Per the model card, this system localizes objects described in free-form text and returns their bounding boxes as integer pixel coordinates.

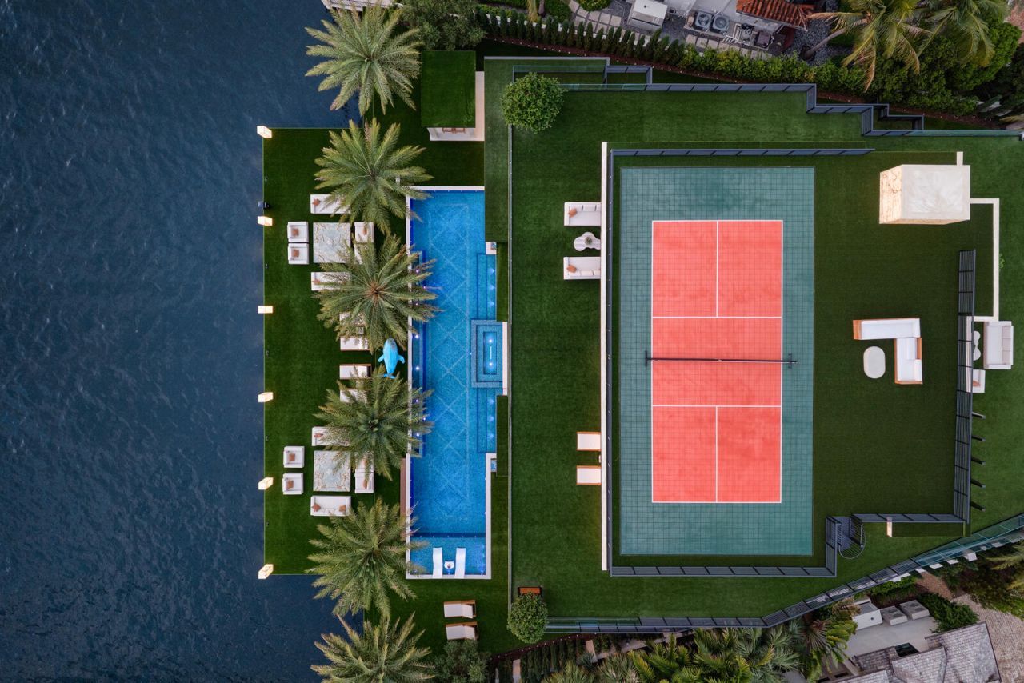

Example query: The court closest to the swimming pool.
[619,166,815,556]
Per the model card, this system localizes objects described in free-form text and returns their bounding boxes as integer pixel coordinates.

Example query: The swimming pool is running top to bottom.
[406,186,508,579]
